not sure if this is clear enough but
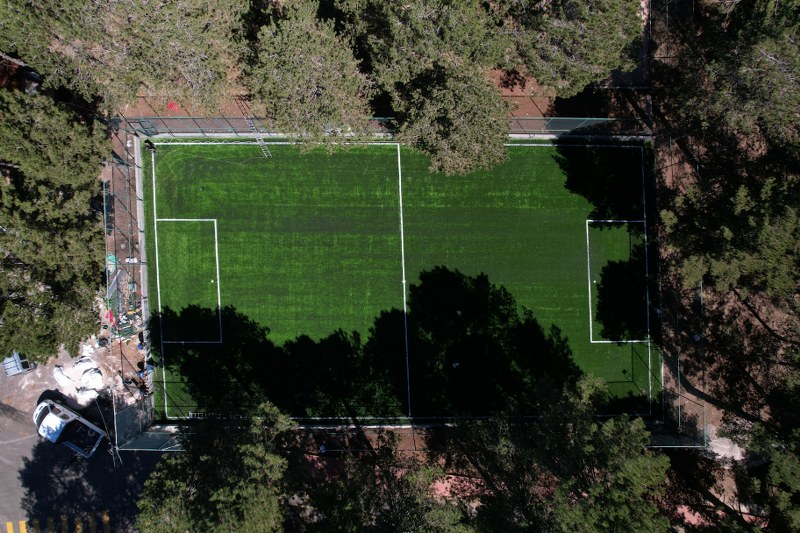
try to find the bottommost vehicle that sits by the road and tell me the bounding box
[33,394,112,458]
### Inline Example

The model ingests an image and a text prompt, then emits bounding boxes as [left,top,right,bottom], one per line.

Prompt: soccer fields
[134,133,667,427]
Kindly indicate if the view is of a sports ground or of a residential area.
sports ground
